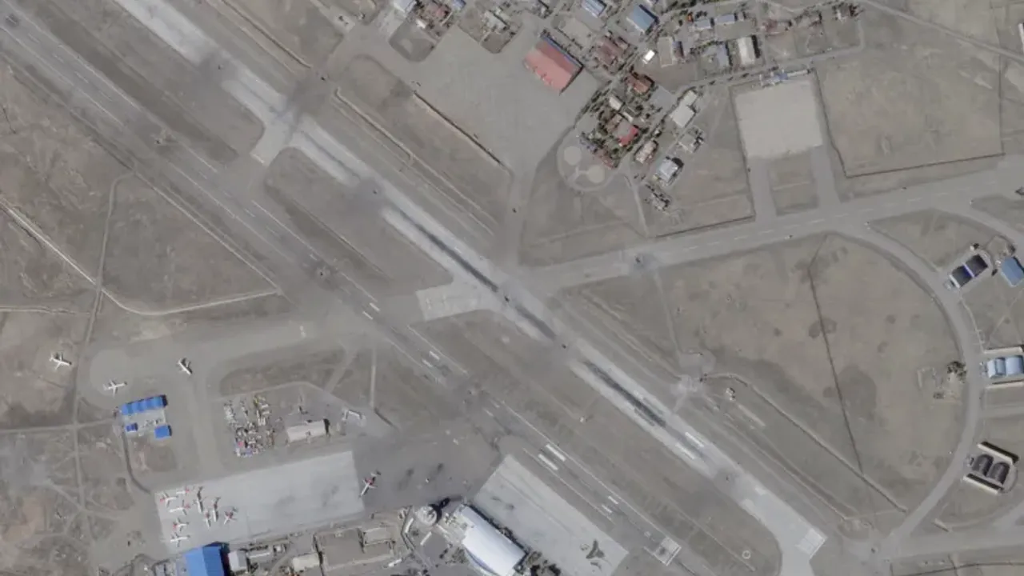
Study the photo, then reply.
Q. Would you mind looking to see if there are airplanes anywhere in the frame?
Yes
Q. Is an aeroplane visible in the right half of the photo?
No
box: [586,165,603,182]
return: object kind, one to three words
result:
helipad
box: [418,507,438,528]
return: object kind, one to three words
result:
building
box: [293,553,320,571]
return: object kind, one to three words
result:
house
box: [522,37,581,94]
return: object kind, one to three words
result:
hangar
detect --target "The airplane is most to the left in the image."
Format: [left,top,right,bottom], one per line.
[48,350,72,371]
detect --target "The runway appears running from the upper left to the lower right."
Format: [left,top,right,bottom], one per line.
[0,0,685,570]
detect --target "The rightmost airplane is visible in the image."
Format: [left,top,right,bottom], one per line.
[362,472,379,497]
